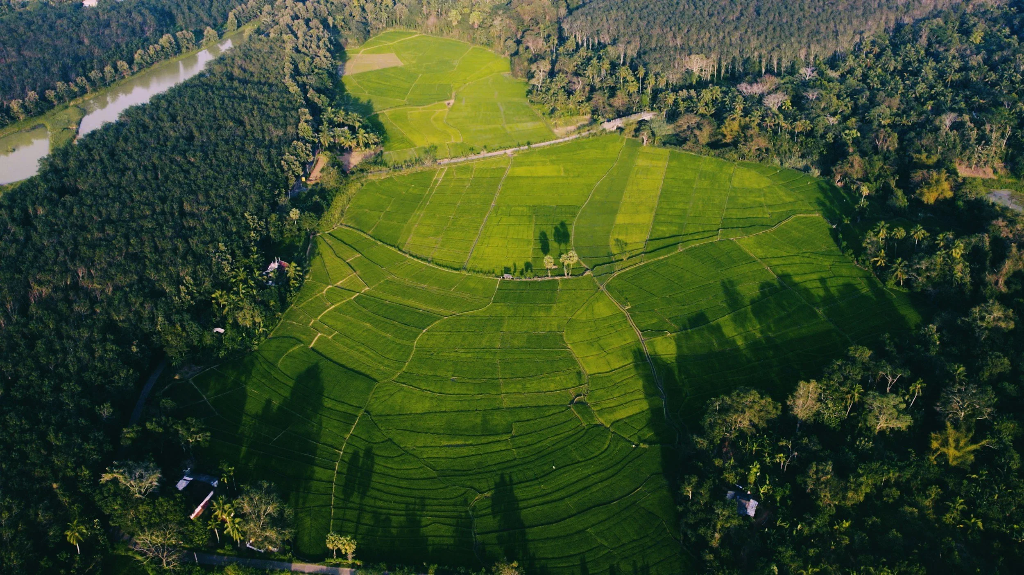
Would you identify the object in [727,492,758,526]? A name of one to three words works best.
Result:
house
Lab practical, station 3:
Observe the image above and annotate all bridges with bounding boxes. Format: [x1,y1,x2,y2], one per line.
[588,108,672,133]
